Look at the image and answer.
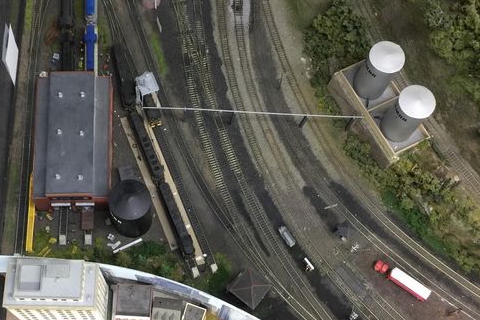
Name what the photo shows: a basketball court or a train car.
train car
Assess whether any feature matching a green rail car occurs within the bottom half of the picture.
No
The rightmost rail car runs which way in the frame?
at an angle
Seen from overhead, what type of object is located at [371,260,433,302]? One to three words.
truck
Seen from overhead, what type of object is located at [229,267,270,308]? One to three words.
shed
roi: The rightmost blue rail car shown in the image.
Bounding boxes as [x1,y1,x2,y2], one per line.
[83,25,98,70]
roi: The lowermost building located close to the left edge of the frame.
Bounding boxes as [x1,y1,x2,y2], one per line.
[3,257,111,320]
